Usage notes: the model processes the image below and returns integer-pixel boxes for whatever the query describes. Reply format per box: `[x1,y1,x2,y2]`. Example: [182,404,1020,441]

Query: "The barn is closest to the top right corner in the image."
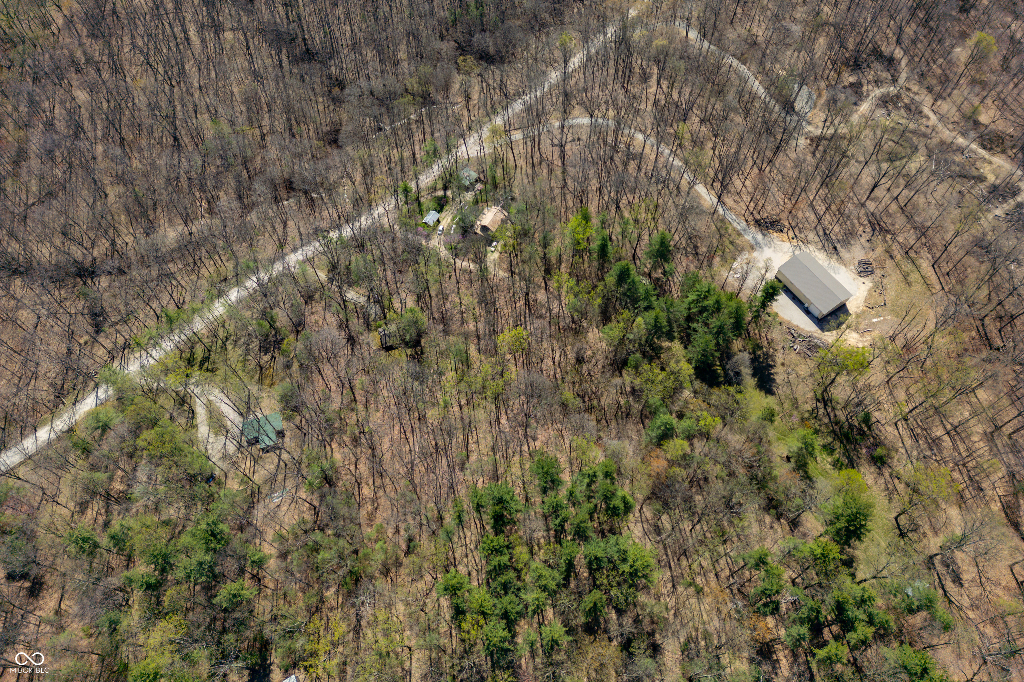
[775,251,853,320]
